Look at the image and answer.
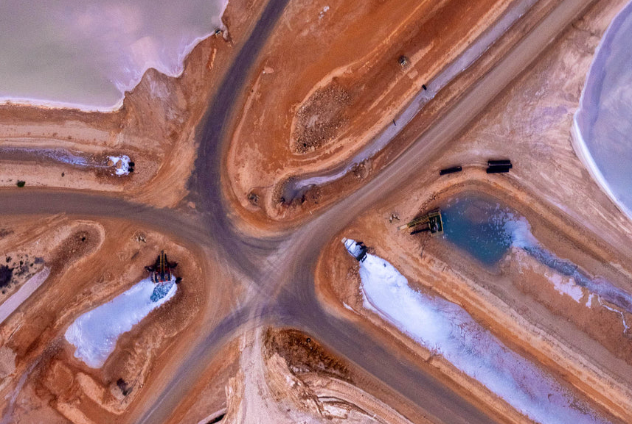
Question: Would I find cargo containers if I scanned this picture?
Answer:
No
